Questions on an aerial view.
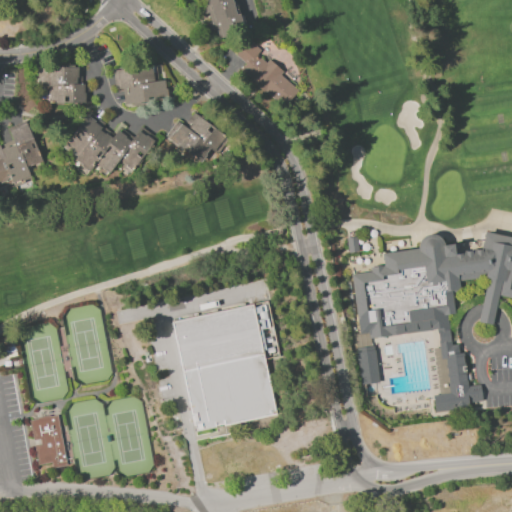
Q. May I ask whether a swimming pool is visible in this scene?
Yes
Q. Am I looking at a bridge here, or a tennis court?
tennis court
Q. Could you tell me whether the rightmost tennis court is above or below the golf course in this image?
below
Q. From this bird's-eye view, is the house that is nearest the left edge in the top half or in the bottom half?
top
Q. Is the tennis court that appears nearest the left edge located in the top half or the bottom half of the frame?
bottom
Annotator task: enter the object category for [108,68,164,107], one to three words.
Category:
house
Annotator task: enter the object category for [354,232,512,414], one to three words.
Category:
building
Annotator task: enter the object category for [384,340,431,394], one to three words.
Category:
swimming pool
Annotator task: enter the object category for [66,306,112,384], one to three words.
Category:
tennis court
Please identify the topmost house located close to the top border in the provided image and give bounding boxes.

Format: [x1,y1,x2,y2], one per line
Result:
[208,0,244,41]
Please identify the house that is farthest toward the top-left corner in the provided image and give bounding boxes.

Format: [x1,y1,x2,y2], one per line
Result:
[35,65,96,108]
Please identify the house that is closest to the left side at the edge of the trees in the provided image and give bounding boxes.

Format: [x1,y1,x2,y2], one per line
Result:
[0,121,40,186]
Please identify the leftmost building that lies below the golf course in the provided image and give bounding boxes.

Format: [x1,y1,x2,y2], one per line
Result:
[31,415,69,468]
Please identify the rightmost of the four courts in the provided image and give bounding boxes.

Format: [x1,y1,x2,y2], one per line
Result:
[109,398,154,477]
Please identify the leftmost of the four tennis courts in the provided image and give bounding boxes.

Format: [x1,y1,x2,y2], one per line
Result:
[25,324,68,402]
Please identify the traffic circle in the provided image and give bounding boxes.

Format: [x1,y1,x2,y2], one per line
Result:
[460,304,512,406]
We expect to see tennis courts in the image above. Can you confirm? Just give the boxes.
[66,306,112,384]
[25,324,68,402]
[70,400,115,478]
[109,398,154,477]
